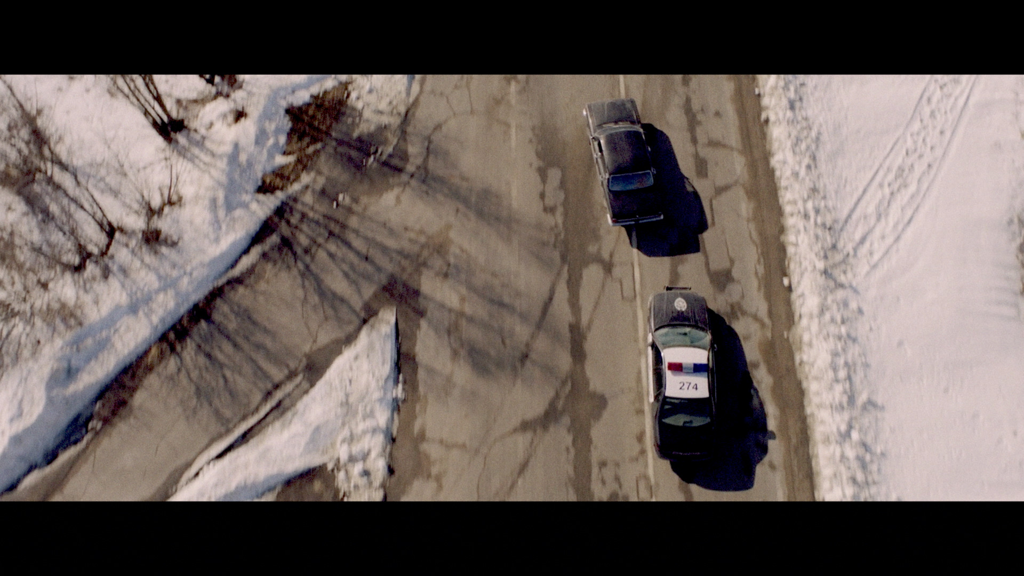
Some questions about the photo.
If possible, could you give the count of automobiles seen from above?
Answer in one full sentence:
The picture shows 2 automobiles.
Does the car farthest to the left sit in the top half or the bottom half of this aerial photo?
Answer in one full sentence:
It is in the top half that the car farthest to the left appears.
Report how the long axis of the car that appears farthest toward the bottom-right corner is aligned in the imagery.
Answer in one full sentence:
The car that appears farthest toward the bottom-right corner is laid out vertically.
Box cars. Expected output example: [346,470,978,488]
[583,97,664,231]
[646,286,720,459]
